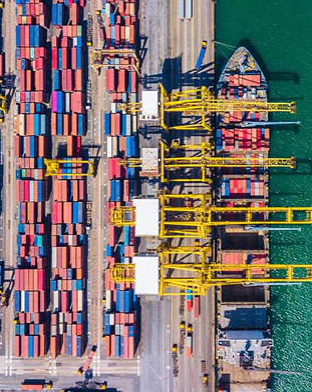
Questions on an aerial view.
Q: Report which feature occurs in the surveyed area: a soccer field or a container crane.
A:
container crane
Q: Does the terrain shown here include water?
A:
Yes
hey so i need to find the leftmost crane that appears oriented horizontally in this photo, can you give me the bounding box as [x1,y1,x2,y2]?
[46,159,95,178]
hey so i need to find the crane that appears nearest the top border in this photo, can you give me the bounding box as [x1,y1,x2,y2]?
[92,49,139,76]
